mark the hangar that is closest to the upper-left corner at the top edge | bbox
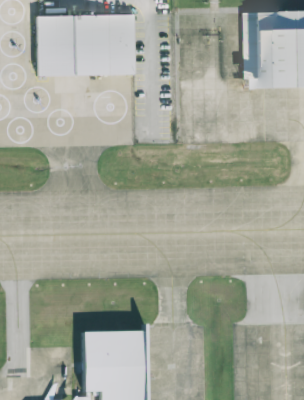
[36,16,136,78]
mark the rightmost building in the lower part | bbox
[82,326,150,400]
